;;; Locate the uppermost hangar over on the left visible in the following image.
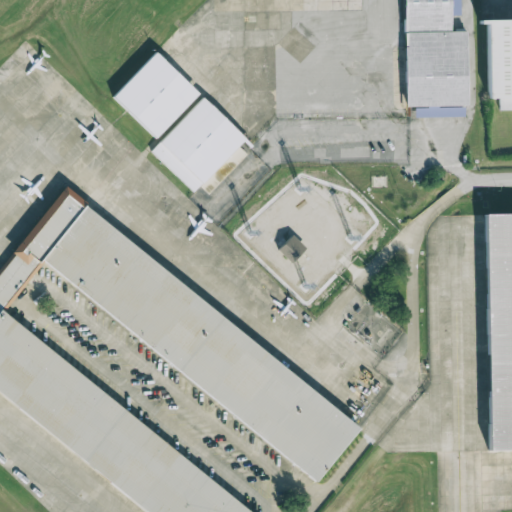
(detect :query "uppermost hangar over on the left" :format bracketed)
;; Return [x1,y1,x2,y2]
[111,48,202,140]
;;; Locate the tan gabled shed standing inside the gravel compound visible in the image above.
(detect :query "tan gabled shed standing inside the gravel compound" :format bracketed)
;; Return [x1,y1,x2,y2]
[278,234,308,263]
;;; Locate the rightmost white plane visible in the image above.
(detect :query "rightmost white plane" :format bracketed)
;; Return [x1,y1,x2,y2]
[275,296,300,318]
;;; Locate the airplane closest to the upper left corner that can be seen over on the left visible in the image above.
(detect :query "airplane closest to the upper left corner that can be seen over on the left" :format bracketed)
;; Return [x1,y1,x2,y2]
[27,48,53,74]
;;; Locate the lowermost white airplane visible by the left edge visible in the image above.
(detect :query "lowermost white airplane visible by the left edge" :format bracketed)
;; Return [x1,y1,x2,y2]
[20,178,44,202]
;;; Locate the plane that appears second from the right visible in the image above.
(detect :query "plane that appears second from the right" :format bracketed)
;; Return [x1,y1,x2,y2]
[189,213,216,240]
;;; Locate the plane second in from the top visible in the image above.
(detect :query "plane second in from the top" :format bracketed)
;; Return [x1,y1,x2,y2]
[80,120,105,144]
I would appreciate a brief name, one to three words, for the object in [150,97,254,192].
hangar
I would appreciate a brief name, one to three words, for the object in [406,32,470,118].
building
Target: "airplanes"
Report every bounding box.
[27,48,53,74]
[189,213,216,240]
[80,120,105,144]
[275,296,300,318]
[20,178,44,202]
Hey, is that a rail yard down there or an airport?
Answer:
airport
